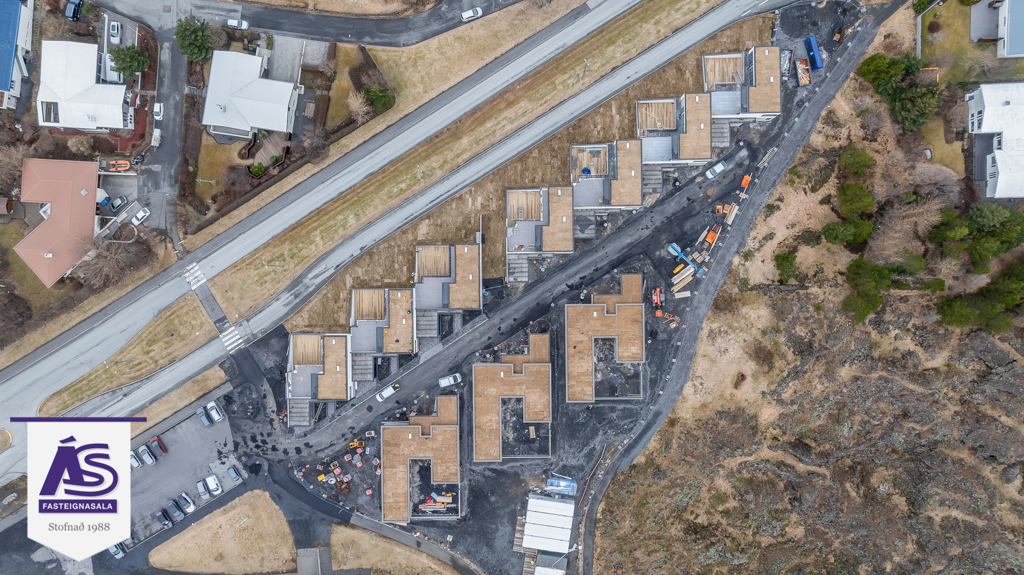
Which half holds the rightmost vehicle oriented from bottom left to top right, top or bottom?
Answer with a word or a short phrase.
top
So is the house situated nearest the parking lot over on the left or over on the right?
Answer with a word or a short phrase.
left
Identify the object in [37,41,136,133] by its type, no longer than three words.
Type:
house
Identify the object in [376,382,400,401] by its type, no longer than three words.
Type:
vehicle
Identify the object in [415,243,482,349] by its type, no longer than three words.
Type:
house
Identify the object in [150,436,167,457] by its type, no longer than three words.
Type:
car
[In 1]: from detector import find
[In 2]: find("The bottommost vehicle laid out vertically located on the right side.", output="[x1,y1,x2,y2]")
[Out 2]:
[651,289,663,317]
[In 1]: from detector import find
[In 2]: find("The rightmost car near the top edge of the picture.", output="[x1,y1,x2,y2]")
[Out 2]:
[459,7,482,22]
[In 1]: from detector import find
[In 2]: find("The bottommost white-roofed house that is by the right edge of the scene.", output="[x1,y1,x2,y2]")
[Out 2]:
[958,84,1024,200]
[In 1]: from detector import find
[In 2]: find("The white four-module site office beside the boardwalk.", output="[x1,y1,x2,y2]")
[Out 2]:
[523,494,574,554]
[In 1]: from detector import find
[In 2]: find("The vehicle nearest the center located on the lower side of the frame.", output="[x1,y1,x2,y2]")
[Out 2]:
[437,373,463,388]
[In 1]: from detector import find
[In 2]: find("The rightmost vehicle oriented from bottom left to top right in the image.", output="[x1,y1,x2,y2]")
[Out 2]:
[704,159,730,179]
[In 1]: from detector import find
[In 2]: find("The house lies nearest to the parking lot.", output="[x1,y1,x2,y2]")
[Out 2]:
[287,334,355,442]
